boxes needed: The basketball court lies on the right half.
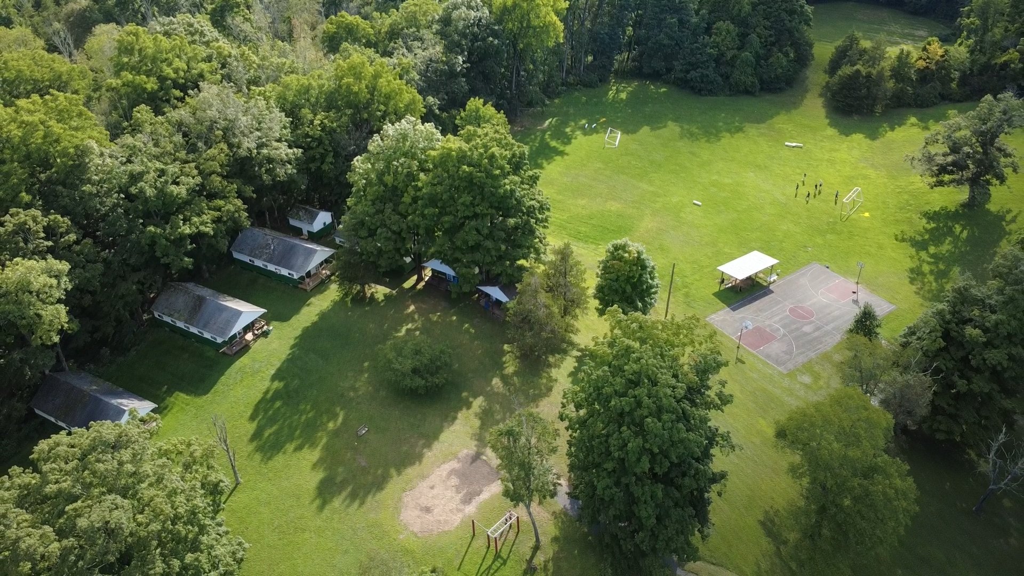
[706,263,896,372]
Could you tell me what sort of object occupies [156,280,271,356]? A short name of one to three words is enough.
building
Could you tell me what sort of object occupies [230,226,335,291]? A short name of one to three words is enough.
building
